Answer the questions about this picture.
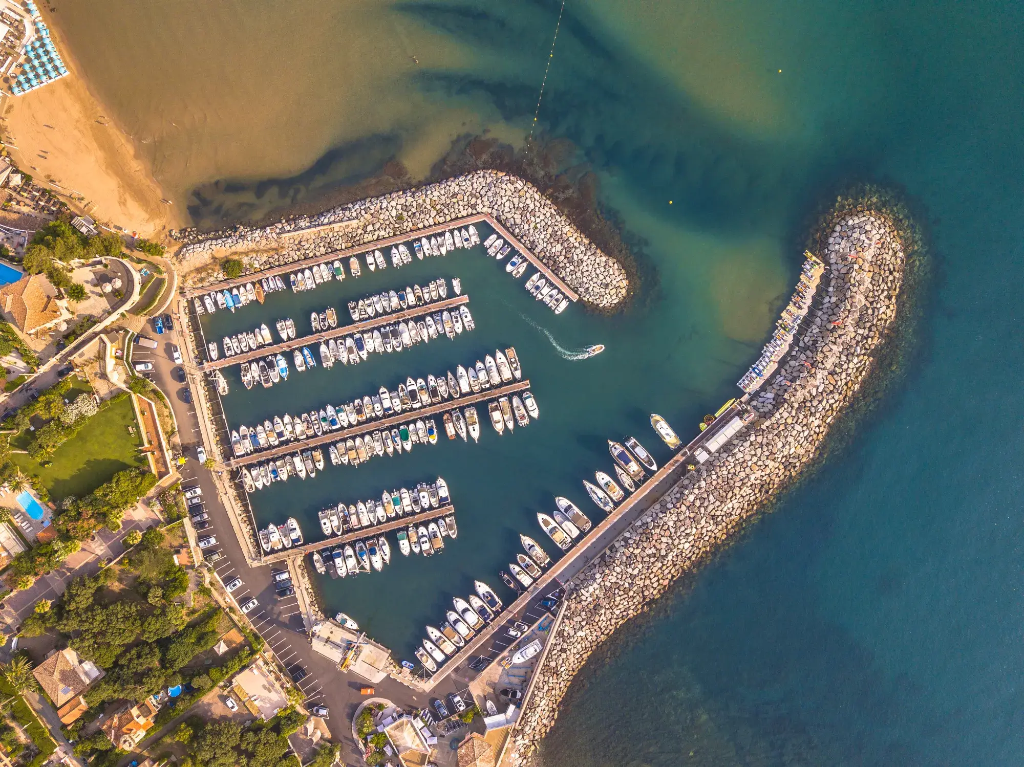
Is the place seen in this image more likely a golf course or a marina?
marina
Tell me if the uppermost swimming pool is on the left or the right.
left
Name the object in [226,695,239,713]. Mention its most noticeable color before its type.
white vehicle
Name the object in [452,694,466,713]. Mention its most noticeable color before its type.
white vehicle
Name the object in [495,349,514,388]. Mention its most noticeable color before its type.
white boat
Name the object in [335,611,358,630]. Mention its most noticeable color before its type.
white boat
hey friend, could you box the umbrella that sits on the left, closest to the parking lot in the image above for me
[111,367,125,381]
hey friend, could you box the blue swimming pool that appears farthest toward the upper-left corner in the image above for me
[0,262,25,286]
